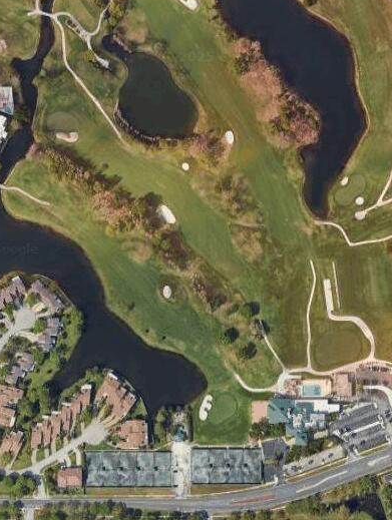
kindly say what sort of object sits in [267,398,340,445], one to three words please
building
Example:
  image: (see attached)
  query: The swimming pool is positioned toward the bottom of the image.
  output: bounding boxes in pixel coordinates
[300,378,330,397]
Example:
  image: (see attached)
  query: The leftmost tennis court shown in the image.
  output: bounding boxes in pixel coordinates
[85,452,103,487]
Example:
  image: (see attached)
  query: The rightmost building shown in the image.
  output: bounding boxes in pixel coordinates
[336,375,351,398]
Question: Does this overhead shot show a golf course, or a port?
golf course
